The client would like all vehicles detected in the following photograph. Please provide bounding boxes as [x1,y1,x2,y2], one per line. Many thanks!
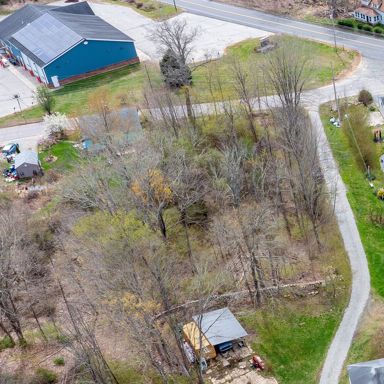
[216,342,233,355]
[0,141,22,154]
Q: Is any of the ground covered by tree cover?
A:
Yes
